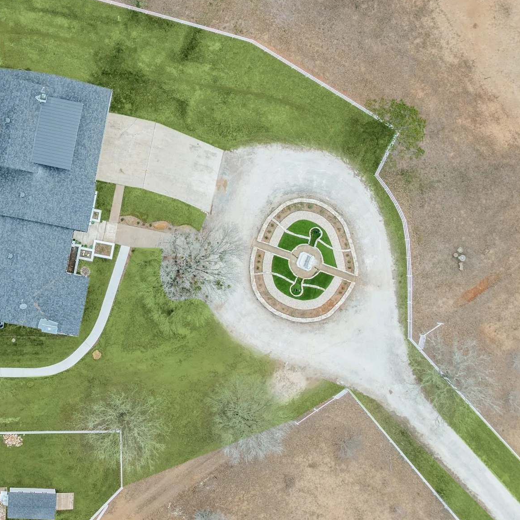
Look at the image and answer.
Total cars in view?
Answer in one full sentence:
The count of cars is 0.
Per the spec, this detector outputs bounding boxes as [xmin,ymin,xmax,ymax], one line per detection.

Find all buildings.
[8,488,56,520]
[0,69,113,336]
